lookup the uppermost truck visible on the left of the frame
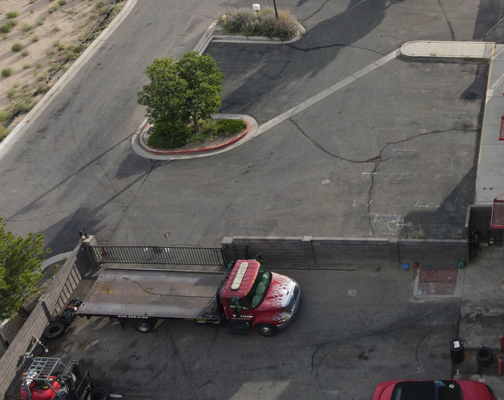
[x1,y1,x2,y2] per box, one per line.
[77,258,303,337]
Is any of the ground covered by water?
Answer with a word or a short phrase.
No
